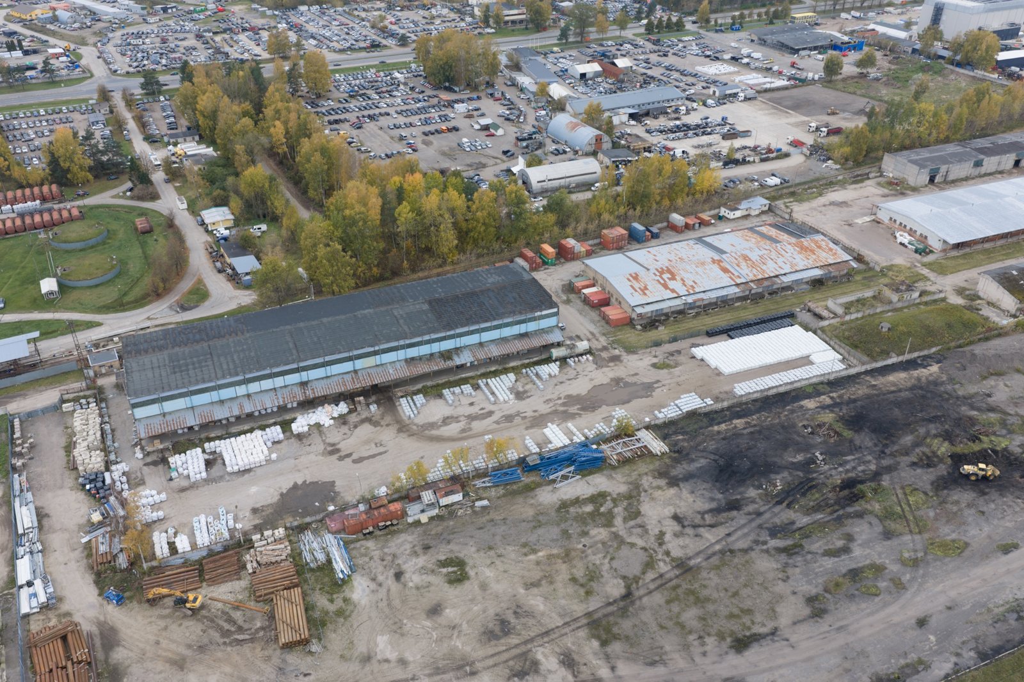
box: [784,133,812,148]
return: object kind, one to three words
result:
vehicle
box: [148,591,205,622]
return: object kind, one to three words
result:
work vehicle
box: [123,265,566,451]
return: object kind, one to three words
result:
warehouse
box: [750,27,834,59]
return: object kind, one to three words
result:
building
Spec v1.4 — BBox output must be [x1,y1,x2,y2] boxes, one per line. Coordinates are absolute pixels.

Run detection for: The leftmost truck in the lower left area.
[102,584,126,609]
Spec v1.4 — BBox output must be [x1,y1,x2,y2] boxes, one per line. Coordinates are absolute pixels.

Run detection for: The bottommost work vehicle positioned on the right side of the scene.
[956,462,1003,484]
